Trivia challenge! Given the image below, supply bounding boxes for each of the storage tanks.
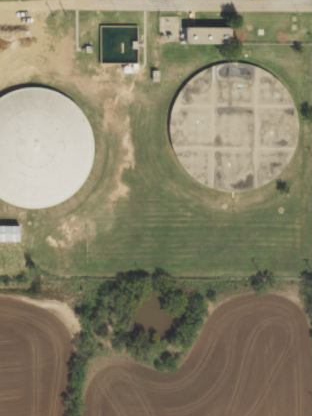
[0,86,96,205]
[170,62,300,196]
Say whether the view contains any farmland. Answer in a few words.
Yes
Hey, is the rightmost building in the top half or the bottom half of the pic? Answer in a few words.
top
